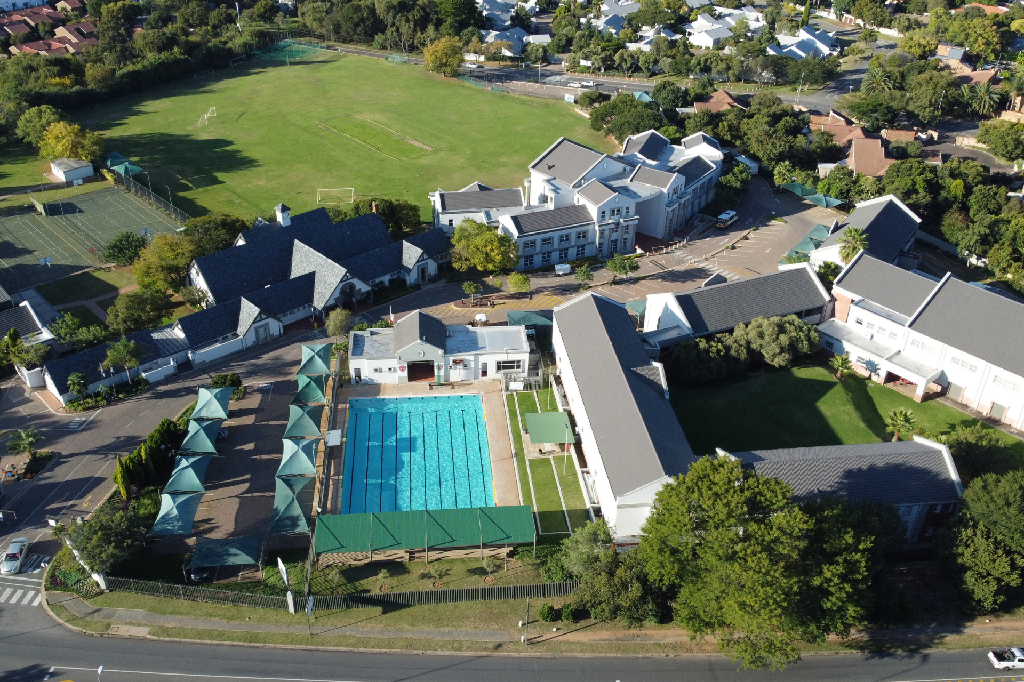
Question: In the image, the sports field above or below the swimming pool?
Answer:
above it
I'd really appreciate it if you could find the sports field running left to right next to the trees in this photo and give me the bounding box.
[0,51,624,249]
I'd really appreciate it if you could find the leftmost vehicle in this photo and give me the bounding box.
[0,540,32,574]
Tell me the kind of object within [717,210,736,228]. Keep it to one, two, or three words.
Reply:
vehicle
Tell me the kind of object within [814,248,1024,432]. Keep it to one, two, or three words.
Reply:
building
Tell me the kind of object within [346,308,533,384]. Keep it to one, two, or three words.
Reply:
building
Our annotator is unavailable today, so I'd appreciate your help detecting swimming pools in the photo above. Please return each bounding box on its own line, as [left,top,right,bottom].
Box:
[339,395,496,514]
